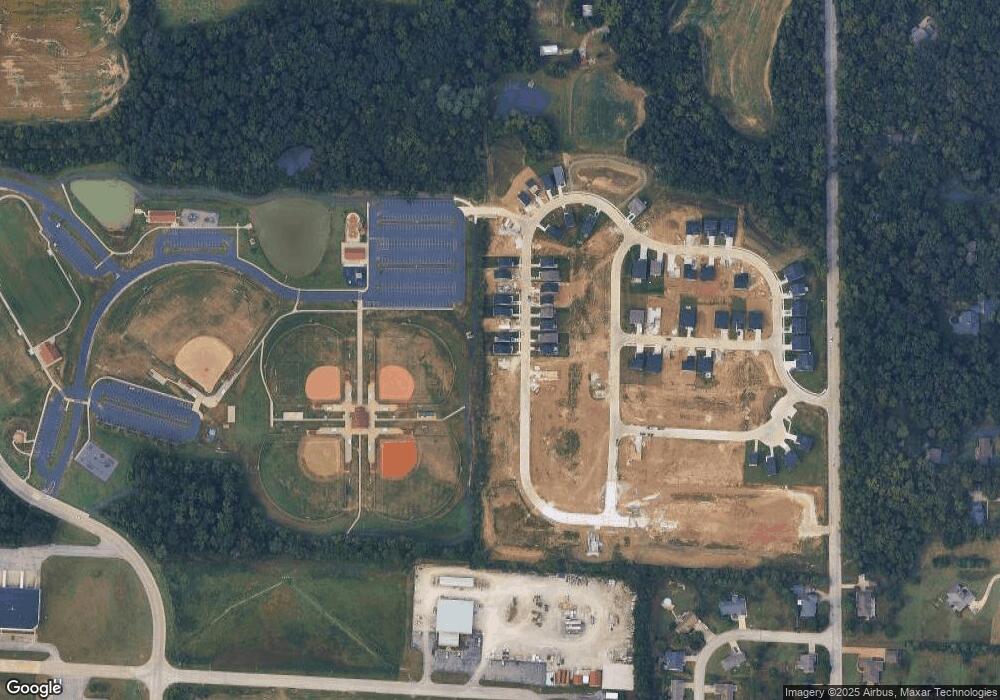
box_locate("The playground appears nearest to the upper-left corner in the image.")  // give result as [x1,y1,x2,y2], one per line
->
[180,209,218,226]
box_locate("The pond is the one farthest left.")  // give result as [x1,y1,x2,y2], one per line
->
[71,179,136,228]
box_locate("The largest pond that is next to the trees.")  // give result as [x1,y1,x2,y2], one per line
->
[250,198,331,277]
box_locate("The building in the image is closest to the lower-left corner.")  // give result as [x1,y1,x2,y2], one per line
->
[0,570,39,638]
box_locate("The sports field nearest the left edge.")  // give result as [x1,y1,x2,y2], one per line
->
[0,200,76,344]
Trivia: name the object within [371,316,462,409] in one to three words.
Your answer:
baseball field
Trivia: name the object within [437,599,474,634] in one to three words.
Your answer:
building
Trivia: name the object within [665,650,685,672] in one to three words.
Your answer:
house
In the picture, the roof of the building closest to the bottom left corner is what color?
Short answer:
blue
